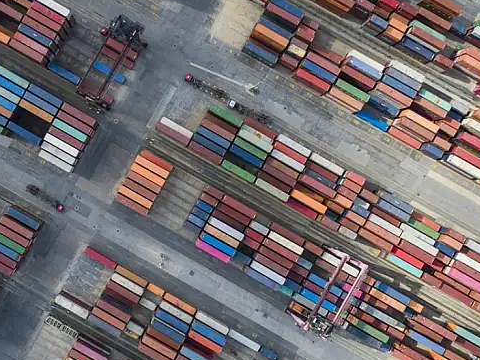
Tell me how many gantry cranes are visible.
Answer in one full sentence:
The picture shows 2 gantry cranes.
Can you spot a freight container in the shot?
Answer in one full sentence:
Yes, a freight container can be made out from above.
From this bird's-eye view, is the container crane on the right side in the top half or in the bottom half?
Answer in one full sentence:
The container crane on the right side sits in the bottom half of the picture.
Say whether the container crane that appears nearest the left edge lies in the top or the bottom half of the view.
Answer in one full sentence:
The container crane that appears nearest the left edge sits in the top half of the picture.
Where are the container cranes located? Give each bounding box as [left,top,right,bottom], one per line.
[283,239,372,340]
[75,17,149,113]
